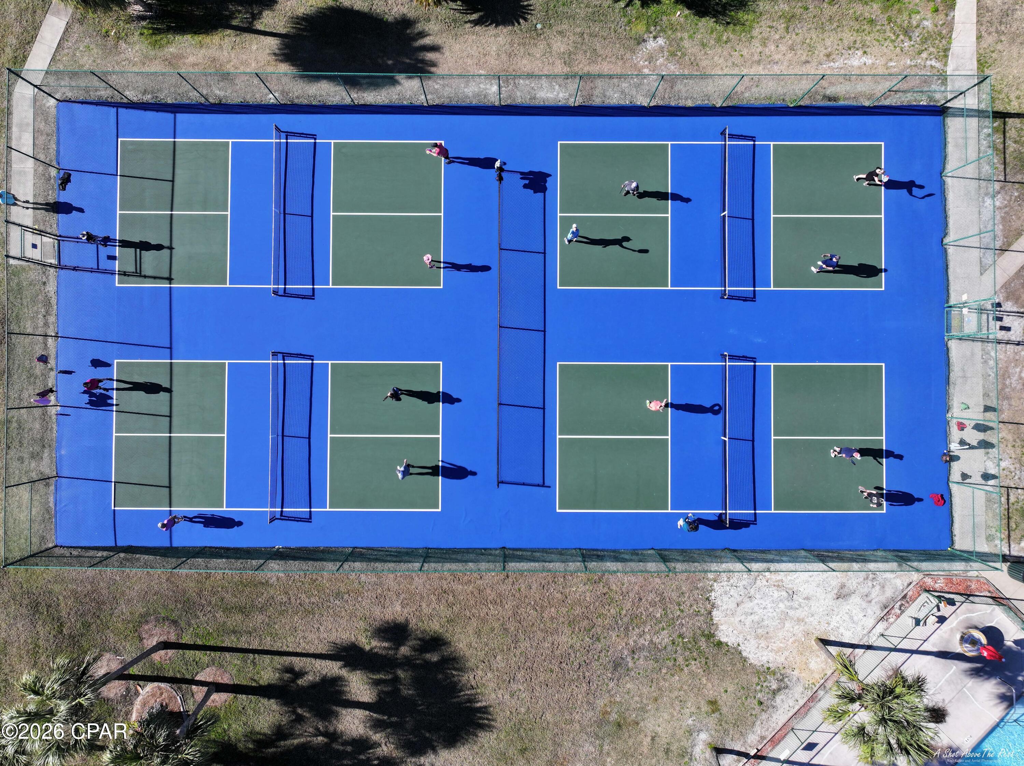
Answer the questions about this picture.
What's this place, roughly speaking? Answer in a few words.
sports ground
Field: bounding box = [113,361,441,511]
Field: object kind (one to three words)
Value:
sports court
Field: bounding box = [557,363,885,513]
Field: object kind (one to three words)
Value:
sports court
